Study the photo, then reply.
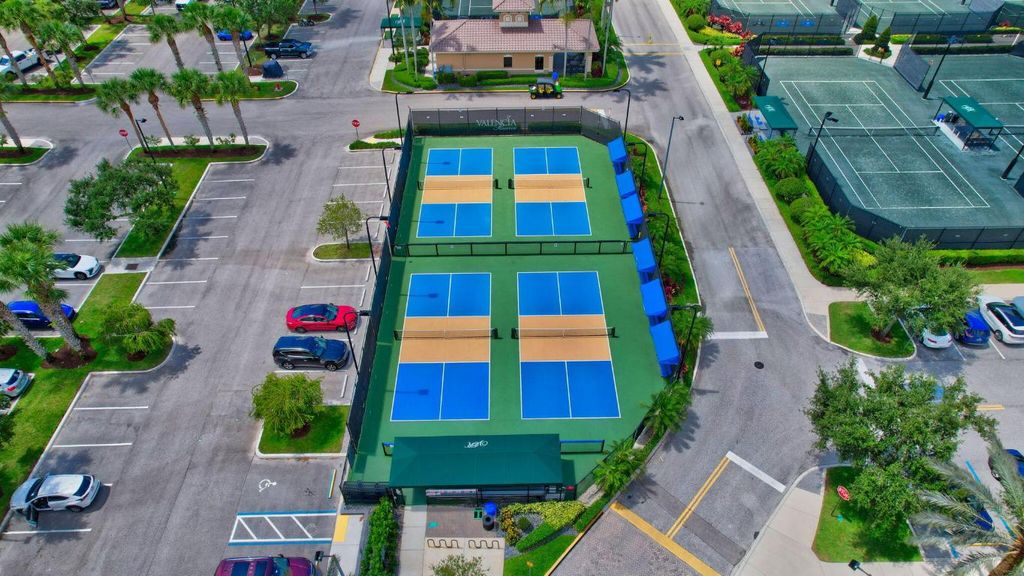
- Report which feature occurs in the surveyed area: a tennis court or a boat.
tennis court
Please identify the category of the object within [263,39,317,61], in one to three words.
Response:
truck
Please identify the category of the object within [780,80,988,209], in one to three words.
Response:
tennis court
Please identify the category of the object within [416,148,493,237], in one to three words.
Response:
sports court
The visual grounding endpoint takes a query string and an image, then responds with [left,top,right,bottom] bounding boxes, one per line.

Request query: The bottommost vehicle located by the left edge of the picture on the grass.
[0,369,44,403]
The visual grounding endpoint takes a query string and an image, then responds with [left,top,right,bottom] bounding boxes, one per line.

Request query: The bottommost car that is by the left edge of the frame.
[7,472,107,531]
